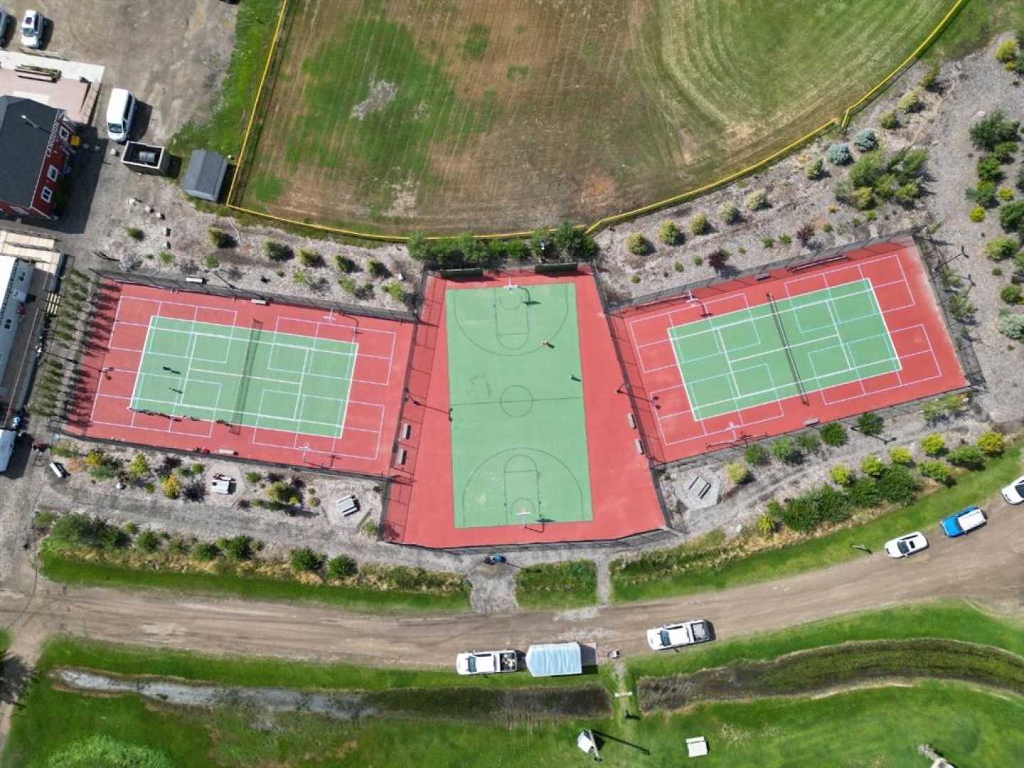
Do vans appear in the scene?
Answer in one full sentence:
Yes, I can see a van in this picture.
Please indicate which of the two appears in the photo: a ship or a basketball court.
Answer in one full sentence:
I can see a basketball court in this picture.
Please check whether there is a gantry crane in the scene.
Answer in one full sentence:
No, no gantry crane can be seen from above.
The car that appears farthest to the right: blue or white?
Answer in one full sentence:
The car that appears farthest to the right looks white in the image.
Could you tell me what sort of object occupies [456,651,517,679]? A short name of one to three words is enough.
truck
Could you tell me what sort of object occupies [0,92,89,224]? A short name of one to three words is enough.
building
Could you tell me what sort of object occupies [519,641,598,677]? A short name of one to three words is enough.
trailer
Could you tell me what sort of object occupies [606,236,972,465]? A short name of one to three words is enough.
tennis court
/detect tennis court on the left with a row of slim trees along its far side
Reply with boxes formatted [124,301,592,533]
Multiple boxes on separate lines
[63,278,418,477]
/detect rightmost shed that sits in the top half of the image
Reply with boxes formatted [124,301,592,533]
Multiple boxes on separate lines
[182,150,230,201]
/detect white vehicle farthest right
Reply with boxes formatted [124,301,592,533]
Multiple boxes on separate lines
[1000,482,1024,510]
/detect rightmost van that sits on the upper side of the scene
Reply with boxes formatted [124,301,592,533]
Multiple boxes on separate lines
[105,83,135,138]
